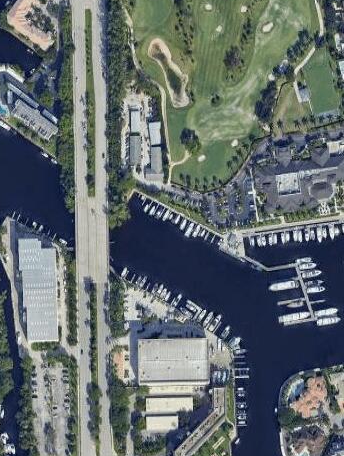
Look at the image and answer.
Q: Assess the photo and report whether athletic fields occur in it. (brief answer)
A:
Yes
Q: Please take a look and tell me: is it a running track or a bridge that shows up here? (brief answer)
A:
bridge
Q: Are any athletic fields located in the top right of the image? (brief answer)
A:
Yes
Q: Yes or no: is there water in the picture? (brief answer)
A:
Yes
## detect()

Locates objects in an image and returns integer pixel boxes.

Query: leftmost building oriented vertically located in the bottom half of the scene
[19,238,58,343]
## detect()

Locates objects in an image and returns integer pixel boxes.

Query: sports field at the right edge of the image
[276,53,342,133]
